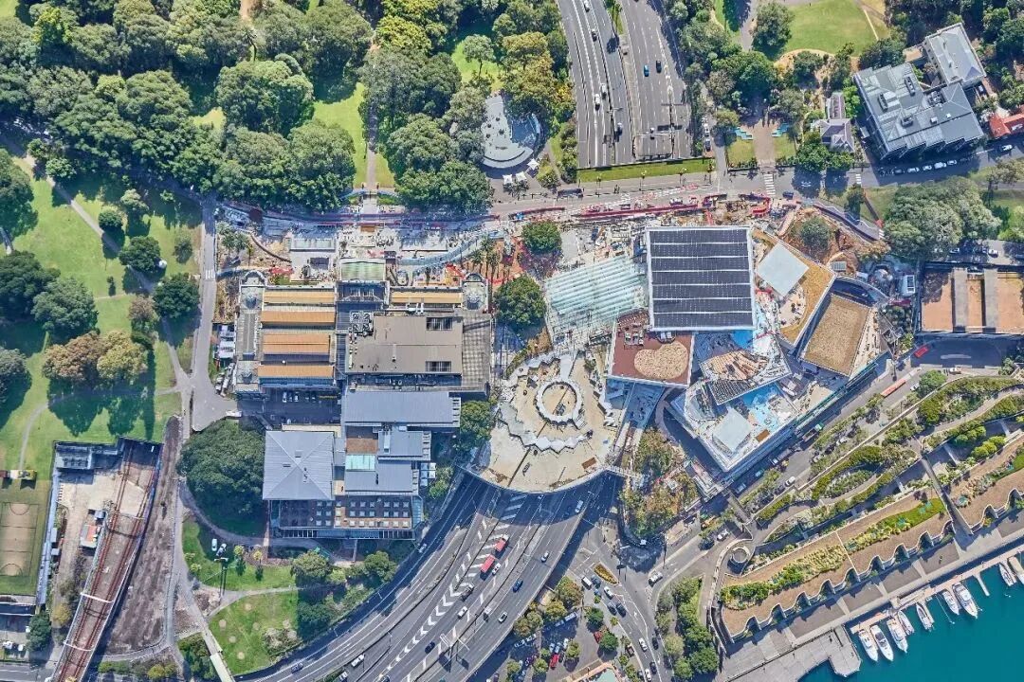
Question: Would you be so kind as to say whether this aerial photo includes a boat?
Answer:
Yes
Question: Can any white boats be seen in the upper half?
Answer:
No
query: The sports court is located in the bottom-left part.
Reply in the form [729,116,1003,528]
[0,479,45,596]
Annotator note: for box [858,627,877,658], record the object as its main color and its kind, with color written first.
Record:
white boat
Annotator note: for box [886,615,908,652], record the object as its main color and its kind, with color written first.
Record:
white boat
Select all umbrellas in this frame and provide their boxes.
[501,172,513,185]
[525,156,541,171]
[514,170,527,182]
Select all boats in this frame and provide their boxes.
[896,607,914,635]
[942,589,958,615]
[1007,552,1024,584]
[914,602,932,632]
[858,627,877,658]
[997,561,1013,588]
[870,623,893,660]
[952,579,975,618]
[886,615,908,652]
